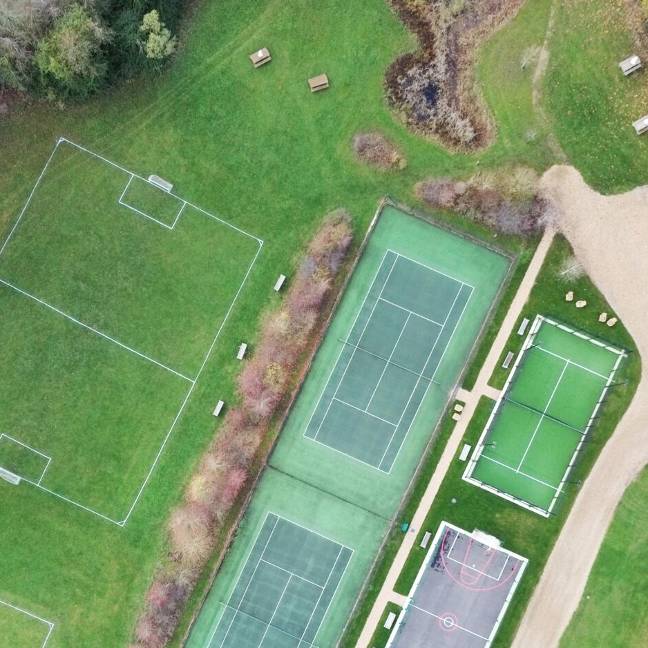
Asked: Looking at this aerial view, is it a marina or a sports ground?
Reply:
sports ground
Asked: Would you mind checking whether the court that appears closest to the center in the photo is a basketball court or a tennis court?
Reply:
tennis court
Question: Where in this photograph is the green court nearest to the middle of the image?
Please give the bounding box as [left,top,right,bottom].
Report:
[268,206,510,517]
